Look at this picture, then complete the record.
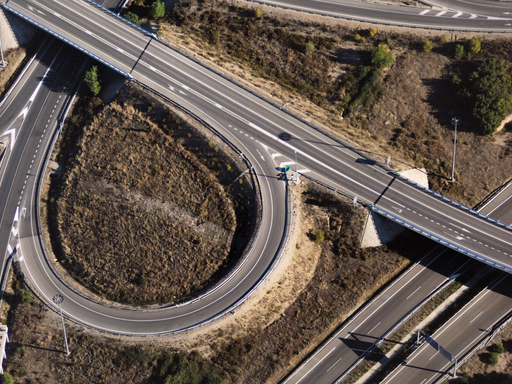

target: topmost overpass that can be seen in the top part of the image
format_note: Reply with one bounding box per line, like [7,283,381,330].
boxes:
[2,0,159,75]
